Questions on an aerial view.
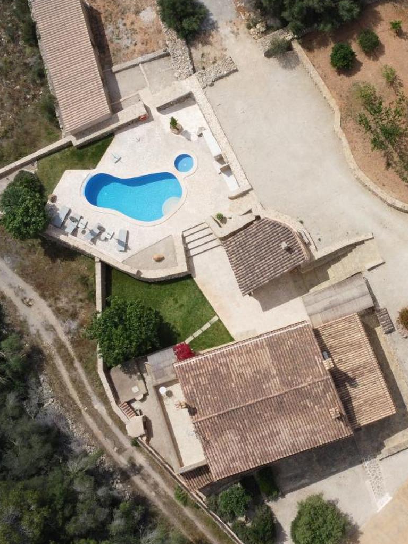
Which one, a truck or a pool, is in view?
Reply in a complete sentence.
Of the two, only a pool appears.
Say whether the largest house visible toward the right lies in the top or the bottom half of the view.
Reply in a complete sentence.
The largest house visible toward the right is in the bottom half of the image.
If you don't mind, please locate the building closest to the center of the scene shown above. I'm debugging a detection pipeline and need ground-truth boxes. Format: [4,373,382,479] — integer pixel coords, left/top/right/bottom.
[221,217,309,296]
